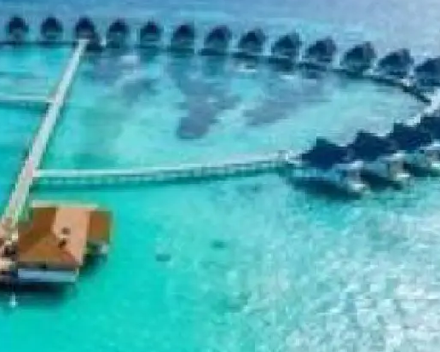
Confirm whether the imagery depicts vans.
No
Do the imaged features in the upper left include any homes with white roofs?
No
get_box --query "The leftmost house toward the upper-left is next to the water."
[1,17,32,43]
